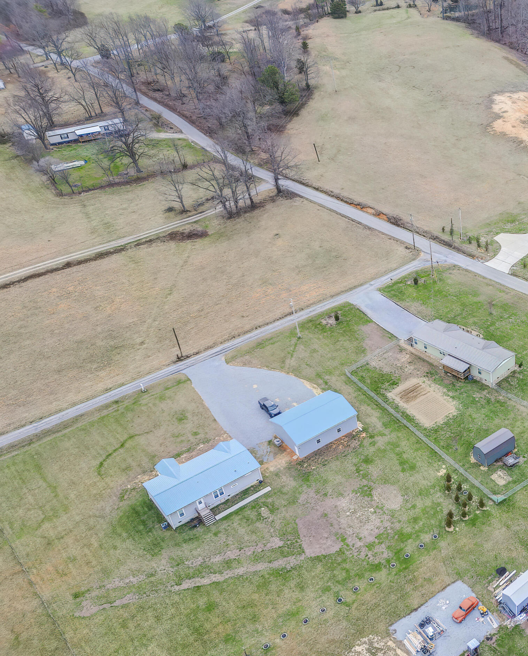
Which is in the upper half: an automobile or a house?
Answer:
house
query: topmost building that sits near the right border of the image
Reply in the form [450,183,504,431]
[408,319,516,386]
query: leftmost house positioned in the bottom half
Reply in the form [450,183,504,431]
[142,438,263,528]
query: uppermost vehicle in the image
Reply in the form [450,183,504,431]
[258,397,281,417]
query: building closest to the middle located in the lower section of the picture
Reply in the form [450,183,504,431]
[269,391,363,458]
